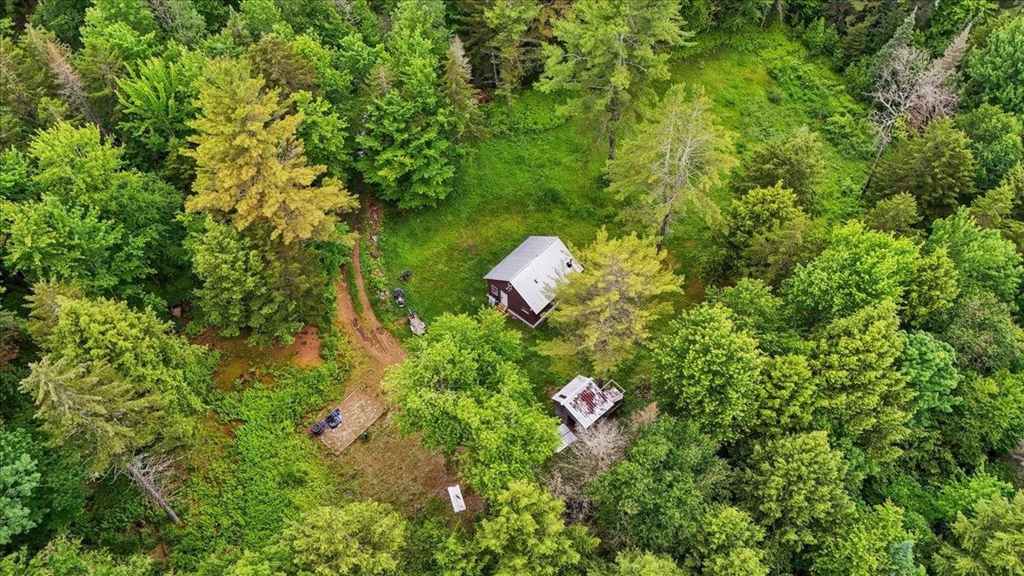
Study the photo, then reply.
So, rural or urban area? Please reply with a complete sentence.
The area shown here is rural.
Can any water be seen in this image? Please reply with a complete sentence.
No, there's no water in this view.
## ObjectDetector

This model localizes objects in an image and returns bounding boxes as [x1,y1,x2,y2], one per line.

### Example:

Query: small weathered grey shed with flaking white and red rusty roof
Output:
[553,375,626,441]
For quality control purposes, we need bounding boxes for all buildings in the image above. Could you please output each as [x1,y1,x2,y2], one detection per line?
[484,235,583,329]
[553,375,626,441]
